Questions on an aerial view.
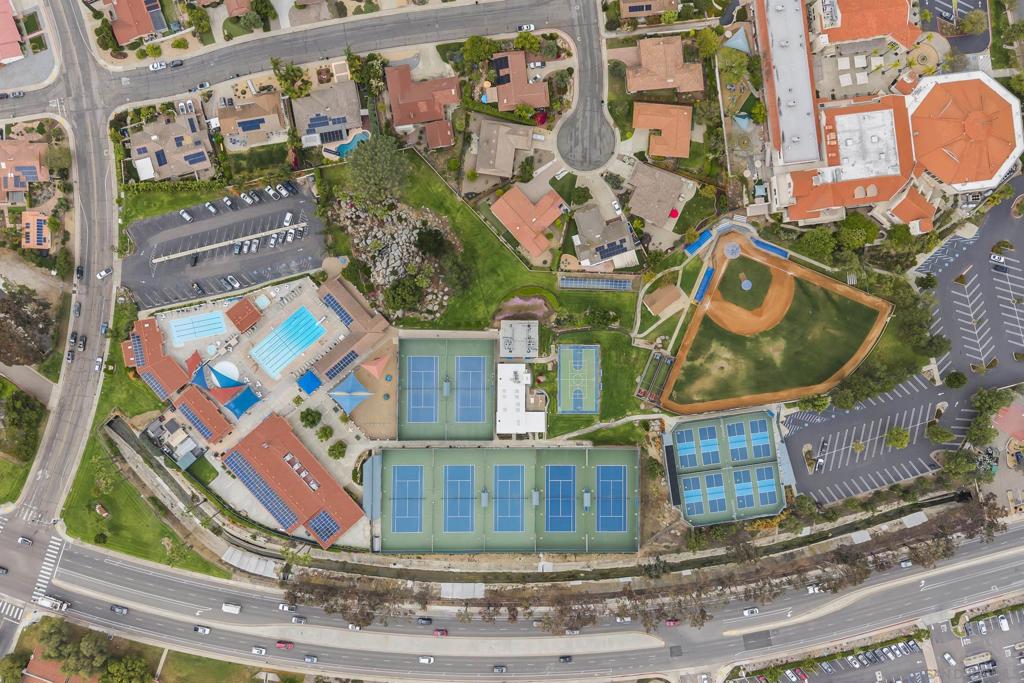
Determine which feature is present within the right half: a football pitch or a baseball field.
baseball field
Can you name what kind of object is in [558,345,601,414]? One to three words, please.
basketball court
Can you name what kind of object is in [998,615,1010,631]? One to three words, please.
vehicle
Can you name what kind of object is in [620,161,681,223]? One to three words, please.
house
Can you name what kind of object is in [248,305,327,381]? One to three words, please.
swimming pool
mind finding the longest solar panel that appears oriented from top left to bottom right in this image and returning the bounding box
[224,453,295,529]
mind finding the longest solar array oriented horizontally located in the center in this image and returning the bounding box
[559,277,632,289]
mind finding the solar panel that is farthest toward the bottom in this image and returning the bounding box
[308,512,338,542]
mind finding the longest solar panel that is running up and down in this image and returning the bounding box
[665,446,680,506]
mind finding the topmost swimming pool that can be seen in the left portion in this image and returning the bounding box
[335,130,370,159]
